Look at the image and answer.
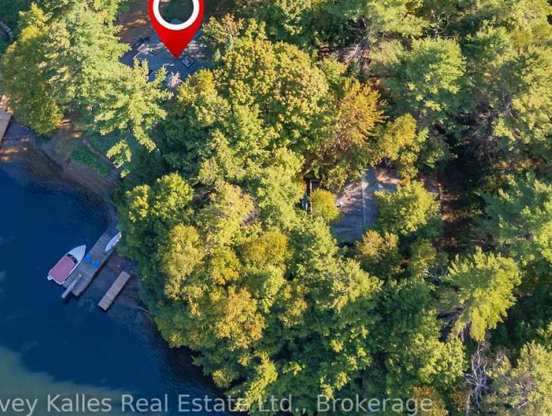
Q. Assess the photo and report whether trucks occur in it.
No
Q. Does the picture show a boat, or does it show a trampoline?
boat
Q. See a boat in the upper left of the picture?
No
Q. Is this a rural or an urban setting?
rural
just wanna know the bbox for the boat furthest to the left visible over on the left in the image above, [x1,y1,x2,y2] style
[46,243,89,284]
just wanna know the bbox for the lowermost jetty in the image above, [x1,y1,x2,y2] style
[98,272,130,311]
